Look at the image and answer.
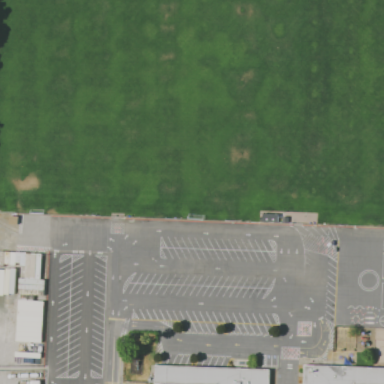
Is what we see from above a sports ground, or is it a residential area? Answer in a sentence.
What you see here is a sports ground.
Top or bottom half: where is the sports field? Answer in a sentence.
The sports field sits in the top half of the picture.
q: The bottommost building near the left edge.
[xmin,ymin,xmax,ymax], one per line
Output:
[16,300,44,342]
